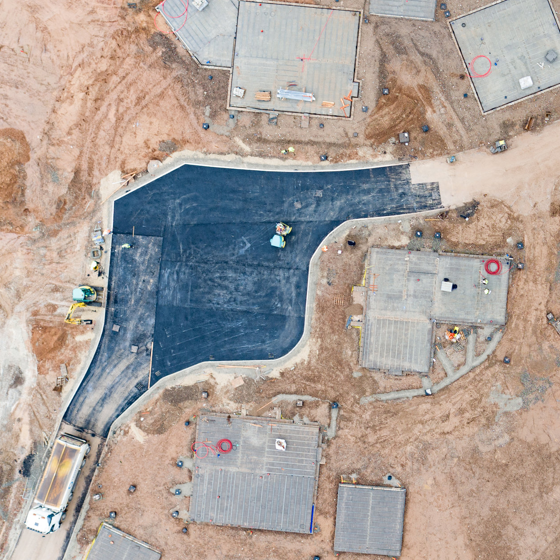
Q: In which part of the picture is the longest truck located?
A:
bottom left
